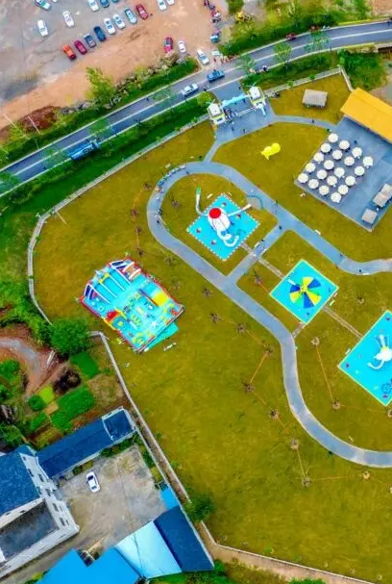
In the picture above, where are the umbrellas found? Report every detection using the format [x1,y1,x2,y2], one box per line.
[346,176,357,189]
[309,180,320,191]
[315,152,325,165]
[355,167,367,179]
[345,156,355,169]
[322,143,333,155]
[324,160,335,172]
[318,170,328,182]
[338,185,349,197]
[307,164,317,175]
[333,150,344,161]
[335,168,346,181]
[364,156,375,170]
[299,174,310,186]
[328,176,339,189]
[331,193,342,205]
[352,147,364,159]
[320,186,331,198]
[340,140,350,153]
[329,133,340,146]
